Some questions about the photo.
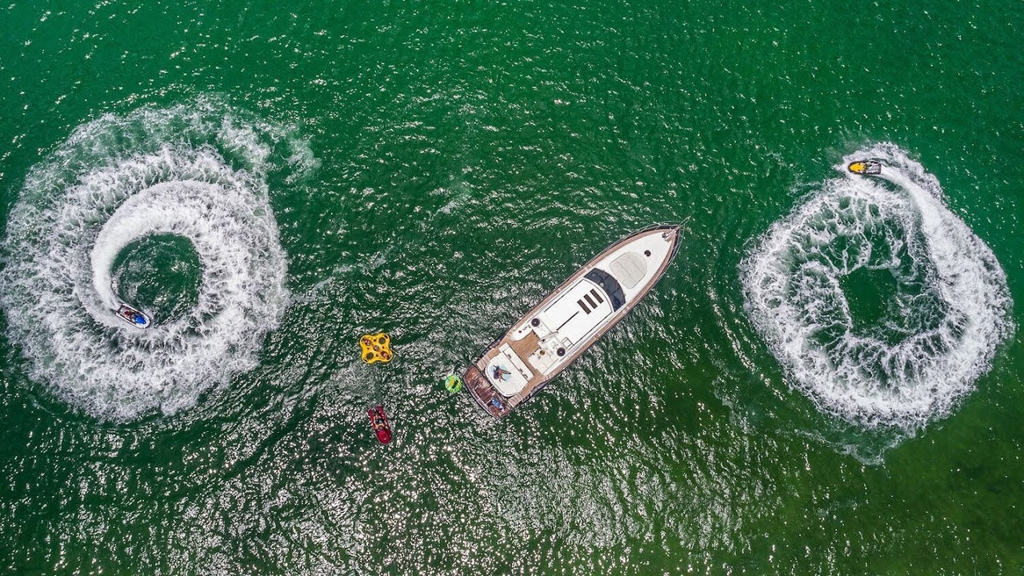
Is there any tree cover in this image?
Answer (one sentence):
No, the picture contains no tree cover.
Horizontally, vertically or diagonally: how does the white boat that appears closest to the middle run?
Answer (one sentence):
Seen from above, the white boat that appears closest to the middle lies diagonally.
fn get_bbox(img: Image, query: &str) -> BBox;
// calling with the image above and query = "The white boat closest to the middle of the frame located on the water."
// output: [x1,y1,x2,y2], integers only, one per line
[463,215,692,418]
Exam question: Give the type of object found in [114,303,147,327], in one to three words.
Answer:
boat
